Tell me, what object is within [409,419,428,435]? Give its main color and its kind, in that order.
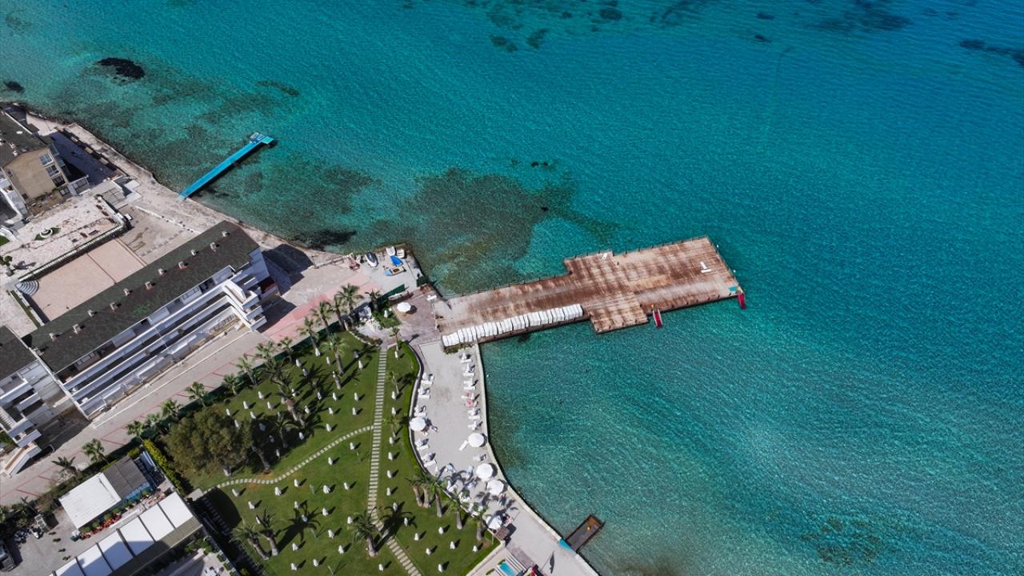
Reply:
white umbrella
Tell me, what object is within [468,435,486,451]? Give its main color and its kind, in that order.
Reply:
white umbrella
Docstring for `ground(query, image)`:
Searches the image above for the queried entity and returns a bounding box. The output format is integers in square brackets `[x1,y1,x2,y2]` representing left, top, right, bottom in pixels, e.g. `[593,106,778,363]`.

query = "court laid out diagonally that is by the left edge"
[40,242,148,321]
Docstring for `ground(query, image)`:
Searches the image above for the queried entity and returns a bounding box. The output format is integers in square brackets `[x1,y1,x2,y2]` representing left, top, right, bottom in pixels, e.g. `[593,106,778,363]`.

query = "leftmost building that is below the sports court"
[0,326,78,475]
